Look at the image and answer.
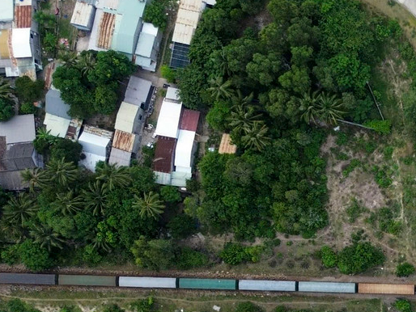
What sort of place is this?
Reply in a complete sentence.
It's a residential area.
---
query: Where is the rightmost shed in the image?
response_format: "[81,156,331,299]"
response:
[218,134,241,155]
